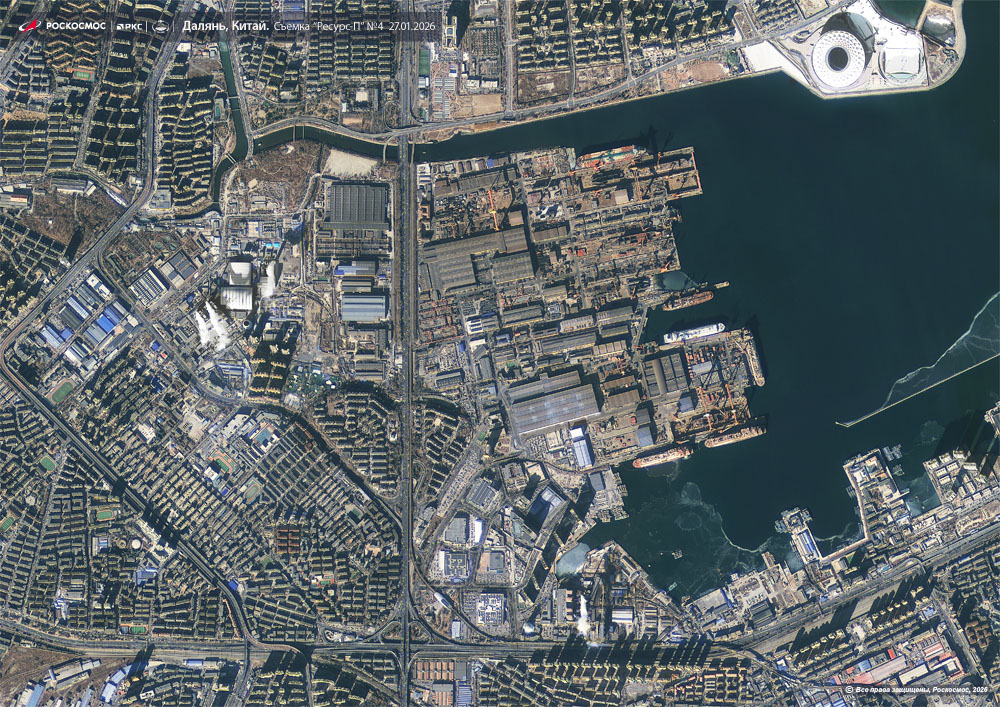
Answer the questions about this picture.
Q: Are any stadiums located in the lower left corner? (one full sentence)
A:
No, there's no stadium to be seen in the lower left corner.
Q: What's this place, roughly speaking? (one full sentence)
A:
This looks like a port.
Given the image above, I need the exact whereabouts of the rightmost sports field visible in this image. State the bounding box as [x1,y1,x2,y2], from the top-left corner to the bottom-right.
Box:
[880,48,925,84]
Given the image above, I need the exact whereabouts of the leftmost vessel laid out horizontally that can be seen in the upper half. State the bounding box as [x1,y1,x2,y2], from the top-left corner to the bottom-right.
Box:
[576,145,638,165]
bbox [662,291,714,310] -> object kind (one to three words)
ship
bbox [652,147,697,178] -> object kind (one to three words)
pier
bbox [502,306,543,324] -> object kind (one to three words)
building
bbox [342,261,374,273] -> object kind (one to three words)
building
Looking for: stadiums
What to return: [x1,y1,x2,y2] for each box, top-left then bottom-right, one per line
[812,33,866,89]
